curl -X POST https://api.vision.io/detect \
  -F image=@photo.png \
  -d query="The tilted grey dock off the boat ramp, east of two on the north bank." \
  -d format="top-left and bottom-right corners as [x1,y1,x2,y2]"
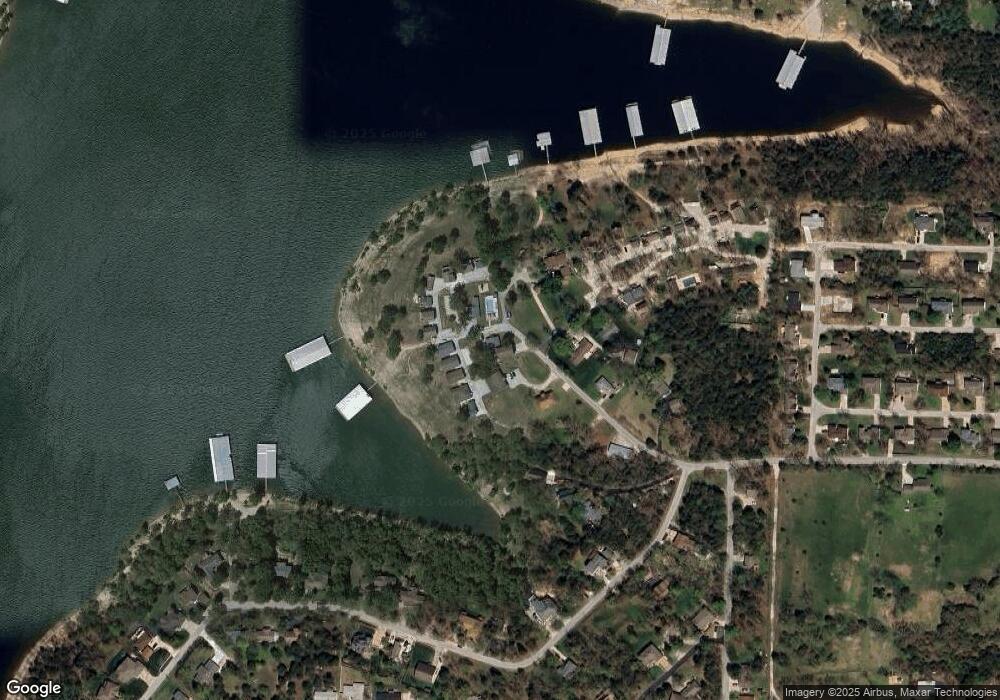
[776,39,807,90]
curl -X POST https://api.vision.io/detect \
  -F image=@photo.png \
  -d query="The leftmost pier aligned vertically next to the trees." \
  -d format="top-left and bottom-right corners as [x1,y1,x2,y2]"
[209,433,233,491]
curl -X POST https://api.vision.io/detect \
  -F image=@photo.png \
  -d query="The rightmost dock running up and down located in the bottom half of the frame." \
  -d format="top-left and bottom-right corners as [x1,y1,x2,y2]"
[257,442,276,492]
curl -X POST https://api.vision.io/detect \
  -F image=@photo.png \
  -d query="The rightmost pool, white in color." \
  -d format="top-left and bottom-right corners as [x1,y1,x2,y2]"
[678,273,701,290]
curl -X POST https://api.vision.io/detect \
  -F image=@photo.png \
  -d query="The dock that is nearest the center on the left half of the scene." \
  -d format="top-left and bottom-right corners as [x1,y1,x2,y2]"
[335,383,378,419]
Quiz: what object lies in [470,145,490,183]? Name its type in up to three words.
pier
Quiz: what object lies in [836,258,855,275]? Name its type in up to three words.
house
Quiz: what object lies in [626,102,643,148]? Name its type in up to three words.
pier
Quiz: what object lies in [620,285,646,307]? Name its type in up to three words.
house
